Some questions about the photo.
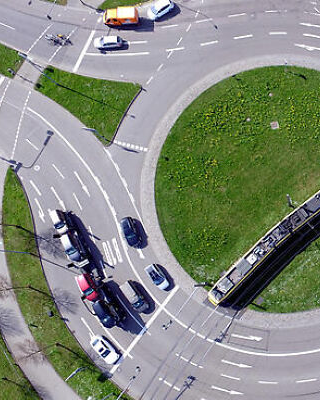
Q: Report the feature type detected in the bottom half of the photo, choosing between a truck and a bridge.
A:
truck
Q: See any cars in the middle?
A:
Yes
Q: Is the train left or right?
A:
right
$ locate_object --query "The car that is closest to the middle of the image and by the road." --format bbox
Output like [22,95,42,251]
[122,216,144,248]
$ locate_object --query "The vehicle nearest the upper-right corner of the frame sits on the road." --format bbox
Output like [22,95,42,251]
[149,0,181,21]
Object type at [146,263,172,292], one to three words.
car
